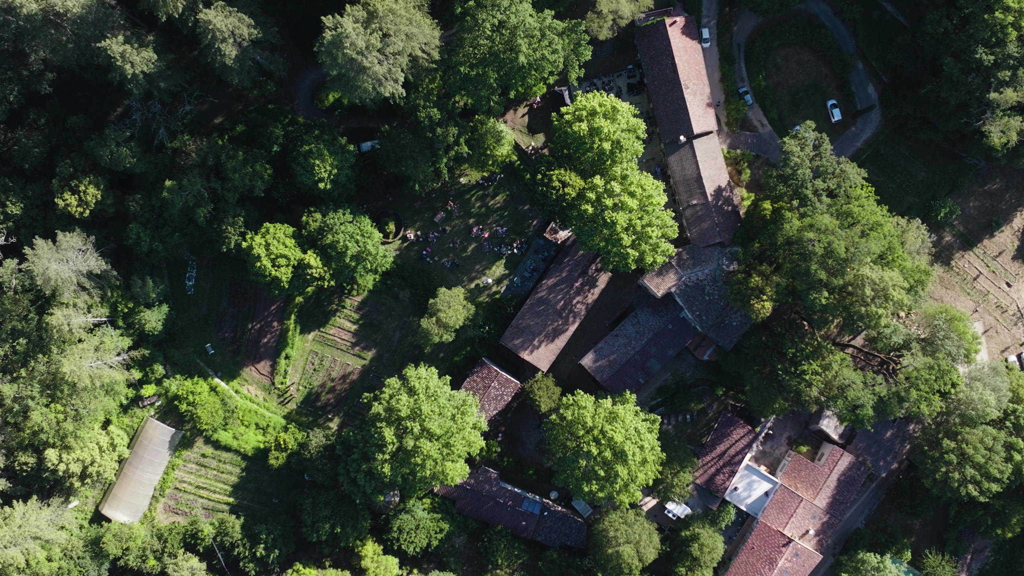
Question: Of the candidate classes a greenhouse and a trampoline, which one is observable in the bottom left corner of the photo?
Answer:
greenhouse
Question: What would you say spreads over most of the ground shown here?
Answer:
trees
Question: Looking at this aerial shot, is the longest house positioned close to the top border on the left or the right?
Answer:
right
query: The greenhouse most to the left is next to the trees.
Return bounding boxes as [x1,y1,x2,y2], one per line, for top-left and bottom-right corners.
[96,416,182,524]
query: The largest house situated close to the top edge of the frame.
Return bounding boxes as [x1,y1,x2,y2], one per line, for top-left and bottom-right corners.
[632,15,719,147]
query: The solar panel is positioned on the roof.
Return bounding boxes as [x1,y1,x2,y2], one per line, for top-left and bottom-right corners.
[521,496,543,515]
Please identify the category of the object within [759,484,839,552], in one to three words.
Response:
house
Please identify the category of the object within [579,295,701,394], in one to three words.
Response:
barn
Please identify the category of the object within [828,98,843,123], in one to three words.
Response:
car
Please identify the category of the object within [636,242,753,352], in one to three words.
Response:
house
